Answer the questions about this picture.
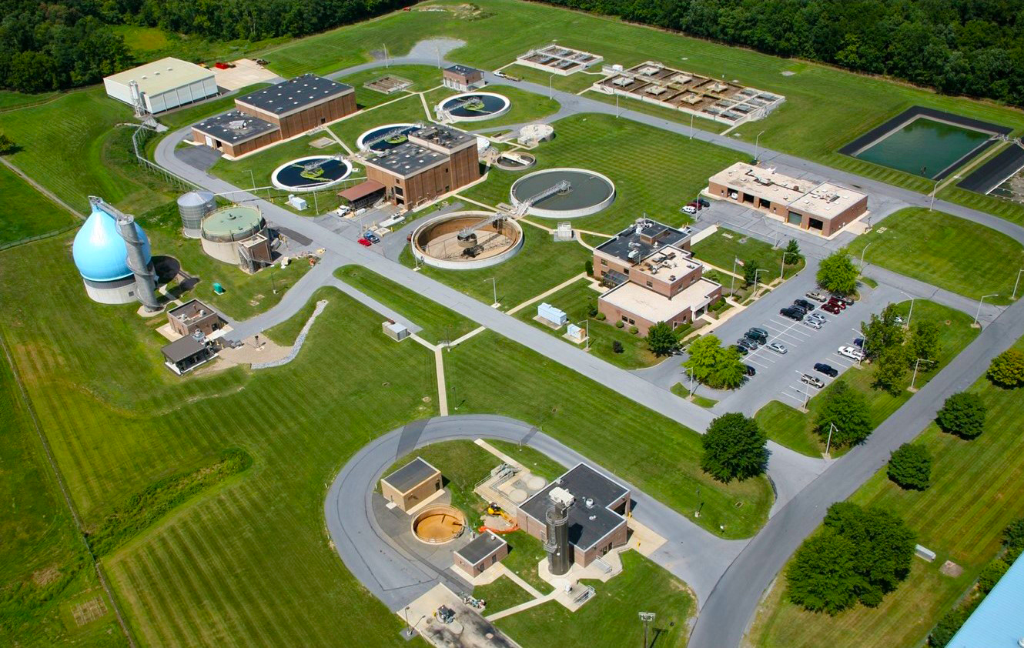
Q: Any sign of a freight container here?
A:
Yes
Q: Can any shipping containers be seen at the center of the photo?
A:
Yes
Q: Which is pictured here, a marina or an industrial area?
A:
industrial area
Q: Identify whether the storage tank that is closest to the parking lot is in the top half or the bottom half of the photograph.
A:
top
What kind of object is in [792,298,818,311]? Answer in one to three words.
vehicle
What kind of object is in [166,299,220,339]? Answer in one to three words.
building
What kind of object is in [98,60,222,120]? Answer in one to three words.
building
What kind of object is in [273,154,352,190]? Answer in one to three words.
storage tank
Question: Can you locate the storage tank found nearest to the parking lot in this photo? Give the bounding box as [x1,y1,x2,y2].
[512,169,613,218]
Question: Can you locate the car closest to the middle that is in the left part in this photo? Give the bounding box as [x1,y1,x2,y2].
[401,231,414,243]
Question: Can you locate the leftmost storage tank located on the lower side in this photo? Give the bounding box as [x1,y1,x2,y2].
[411,499,466,547]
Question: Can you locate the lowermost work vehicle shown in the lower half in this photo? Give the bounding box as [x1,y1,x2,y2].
[485,498,515,520]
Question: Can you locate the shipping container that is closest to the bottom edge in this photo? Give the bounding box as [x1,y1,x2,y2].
[532,302,573,327]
